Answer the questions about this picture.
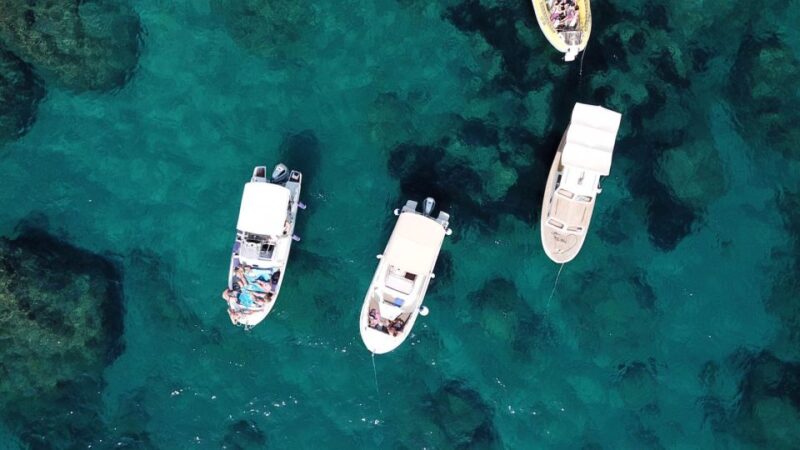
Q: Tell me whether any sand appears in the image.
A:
No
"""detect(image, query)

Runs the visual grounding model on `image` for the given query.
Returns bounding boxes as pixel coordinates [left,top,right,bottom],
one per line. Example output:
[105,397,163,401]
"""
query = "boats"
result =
[543,103,620,263]
[229,162,302,334]
[362,198,448,358]
[533,0,592,61]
